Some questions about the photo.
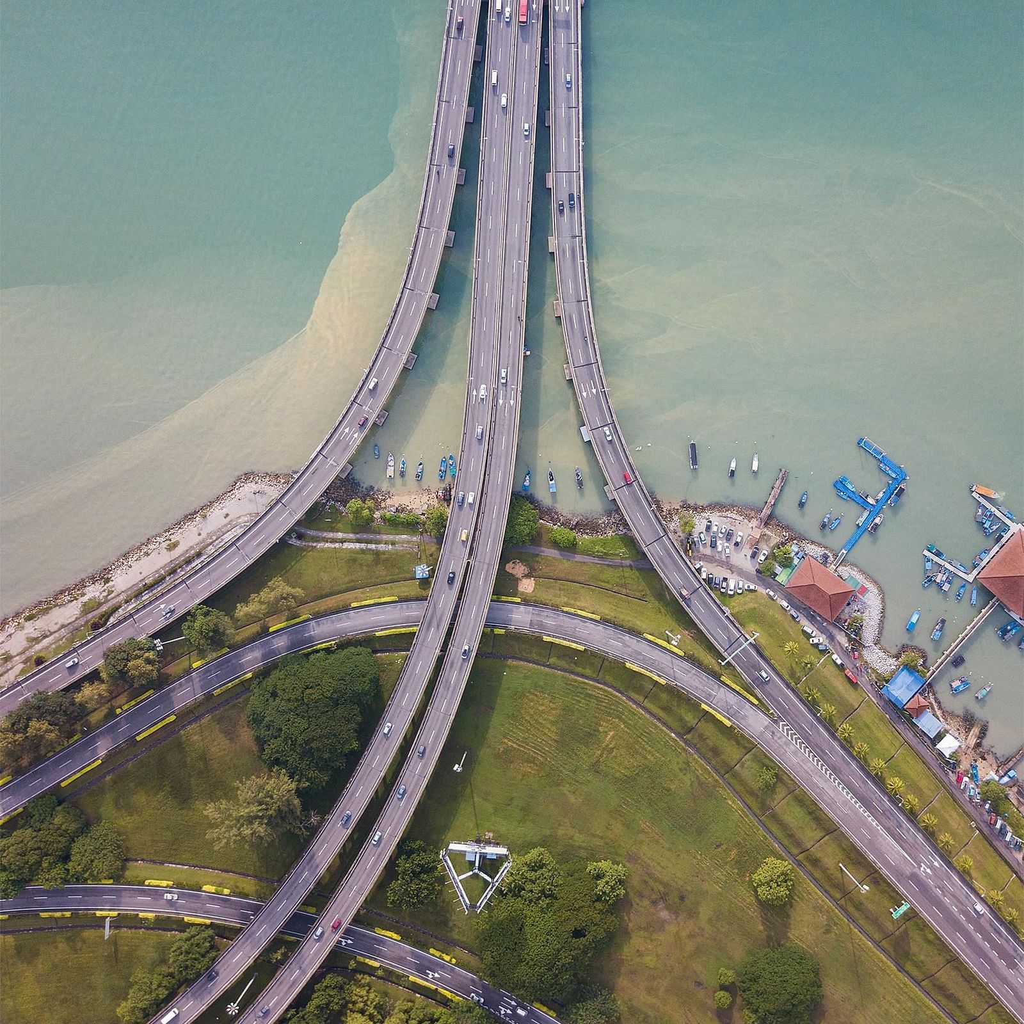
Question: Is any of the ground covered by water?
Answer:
Yes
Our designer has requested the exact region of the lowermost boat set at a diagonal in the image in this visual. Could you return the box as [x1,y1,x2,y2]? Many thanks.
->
[1000,769,1018,783]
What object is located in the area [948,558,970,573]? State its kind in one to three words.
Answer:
boat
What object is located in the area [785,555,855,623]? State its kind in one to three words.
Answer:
building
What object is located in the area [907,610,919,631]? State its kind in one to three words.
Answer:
boat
